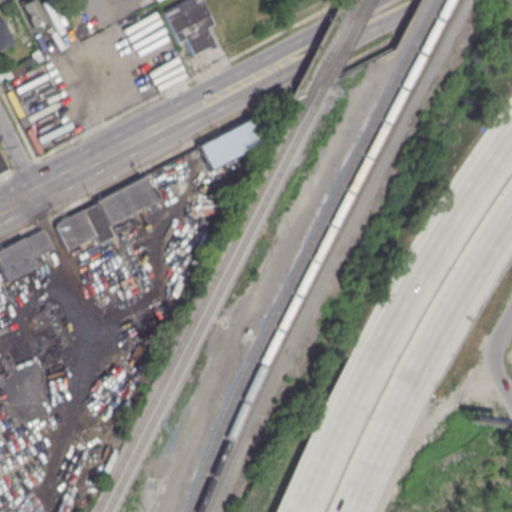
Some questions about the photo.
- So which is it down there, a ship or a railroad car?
railroad car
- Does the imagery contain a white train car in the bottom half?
Yes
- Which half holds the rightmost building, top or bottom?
top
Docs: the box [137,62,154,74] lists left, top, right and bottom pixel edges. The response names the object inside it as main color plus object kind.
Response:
red vehicle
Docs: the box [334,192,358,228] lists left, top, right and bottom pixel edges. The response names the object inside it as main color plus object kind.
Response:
white rail car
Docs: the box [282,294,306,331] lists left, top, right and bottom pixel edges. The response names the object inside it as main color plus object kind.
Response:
white rail car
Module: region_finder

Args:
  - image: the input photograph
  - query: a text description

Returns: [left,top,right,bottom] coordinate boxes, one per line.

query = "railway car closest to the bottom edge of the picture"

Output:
[190,474,214,512]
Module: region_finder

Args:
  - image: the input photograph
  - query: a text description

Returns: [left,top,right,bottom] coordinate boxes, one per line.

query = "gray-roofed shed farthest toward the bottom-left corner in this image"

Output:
[0,230,56,282]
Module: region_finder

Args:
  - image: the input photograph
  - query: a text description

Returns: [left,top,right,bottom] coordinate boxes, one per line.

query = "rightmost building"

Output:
[202,120,256,170]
